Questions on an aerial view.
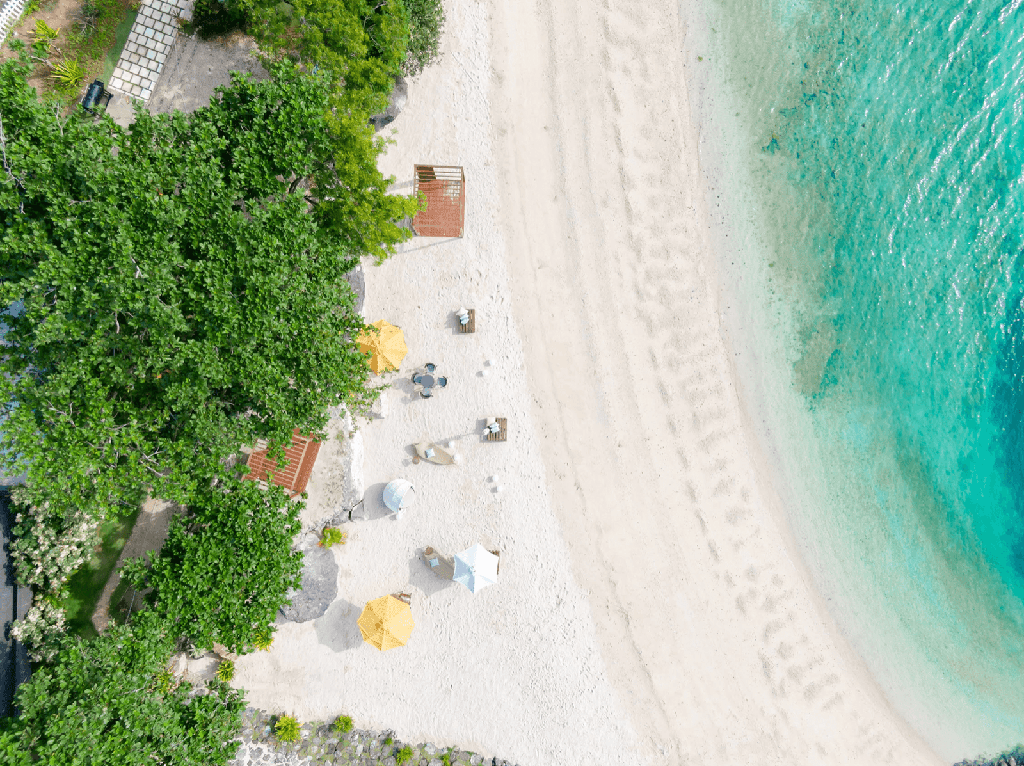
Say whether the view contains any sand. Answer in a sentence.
Yes, sand can be seen from above here.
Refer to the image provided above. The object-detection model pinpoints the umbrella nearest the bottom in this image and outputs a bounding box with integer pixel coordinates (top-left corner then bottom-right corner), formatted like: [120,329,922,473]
[357,593,415,652]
